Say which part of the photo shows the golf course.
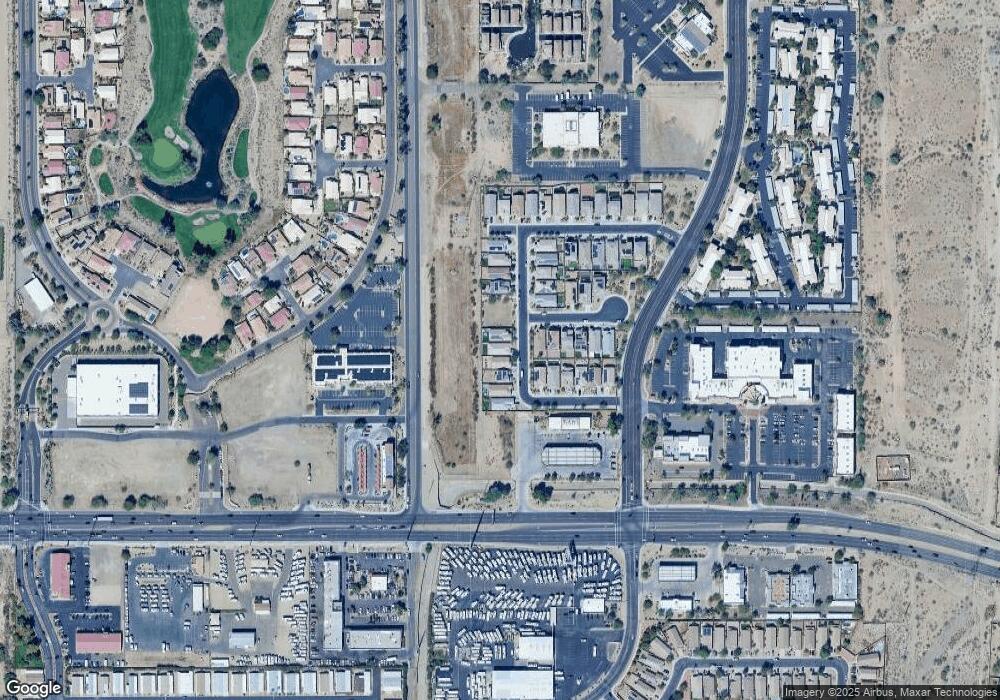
top left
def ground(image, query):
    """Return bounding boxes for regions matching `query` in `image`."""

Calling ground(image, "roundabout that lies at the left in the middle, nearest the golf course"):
[85,300,117,332]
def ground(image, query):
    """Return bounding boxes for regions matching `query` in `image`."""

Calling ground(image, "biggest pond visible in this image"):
[143,69,239,204]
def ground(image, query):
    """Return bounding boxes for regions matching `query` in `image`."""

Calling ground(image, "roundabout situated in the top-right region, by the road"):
[743,143,772,171]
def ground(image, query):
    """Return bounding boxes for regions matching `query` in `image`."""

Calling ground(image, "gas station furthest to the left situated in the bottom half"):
[542,447,602,466]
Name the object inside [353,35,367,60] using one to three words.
house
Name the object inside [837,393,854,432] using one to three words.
building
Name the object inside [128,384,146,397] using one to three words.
solar panel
